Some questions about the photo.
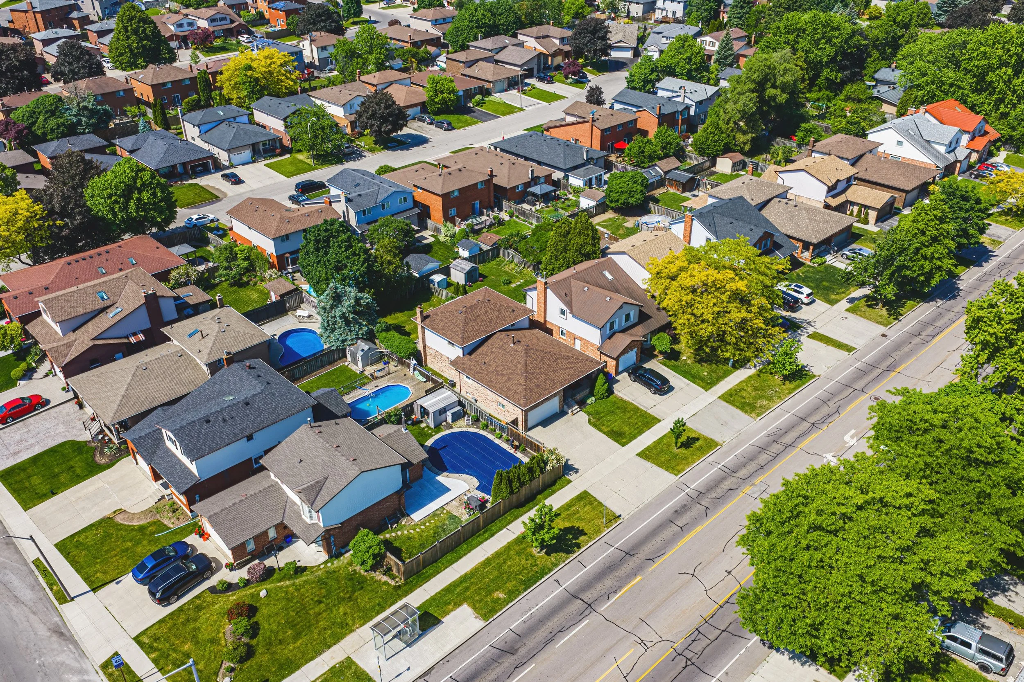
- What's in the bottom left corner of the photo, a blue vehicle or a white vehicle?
blue vehicle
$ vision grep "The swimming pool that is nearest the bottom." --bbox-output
[420,423,532,505]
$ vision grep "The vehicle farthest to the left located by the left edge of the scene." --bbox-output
[0,390,47,423]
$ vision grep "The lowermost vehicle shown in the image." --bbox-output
[925,611,1024,679]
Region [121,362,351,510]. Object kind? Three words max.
house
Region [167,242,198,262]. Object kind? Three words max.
gazebo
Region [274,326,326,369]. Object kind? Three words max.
swimming pool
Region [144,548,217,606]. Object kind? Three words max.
car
